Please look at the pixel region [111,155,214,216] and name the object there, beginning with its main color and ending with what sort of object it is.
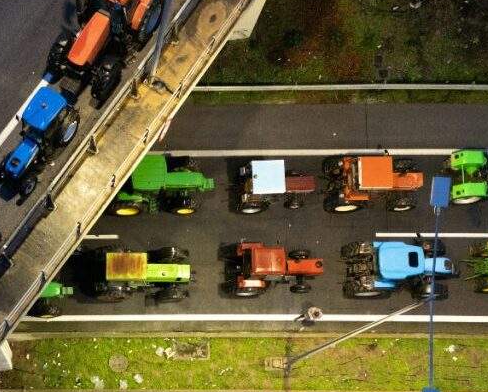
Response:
green work vehicle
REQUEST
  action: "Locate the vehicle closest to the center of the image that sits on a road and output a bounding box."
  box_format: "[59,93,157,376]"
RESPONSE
[228,160,317,215]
